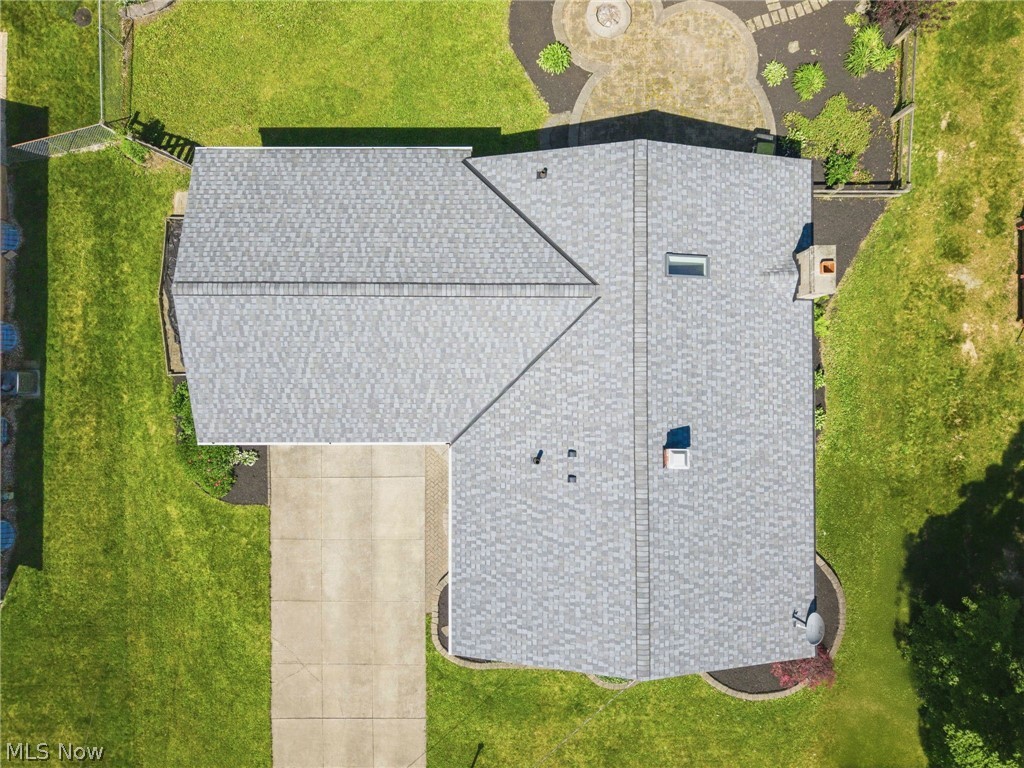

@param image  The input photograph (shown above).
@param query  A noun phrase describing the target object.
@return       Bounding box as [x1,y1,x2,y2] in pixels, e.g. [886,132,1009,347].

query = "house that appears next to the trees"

[171,140,835,680]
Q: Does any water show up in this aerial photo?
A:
No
